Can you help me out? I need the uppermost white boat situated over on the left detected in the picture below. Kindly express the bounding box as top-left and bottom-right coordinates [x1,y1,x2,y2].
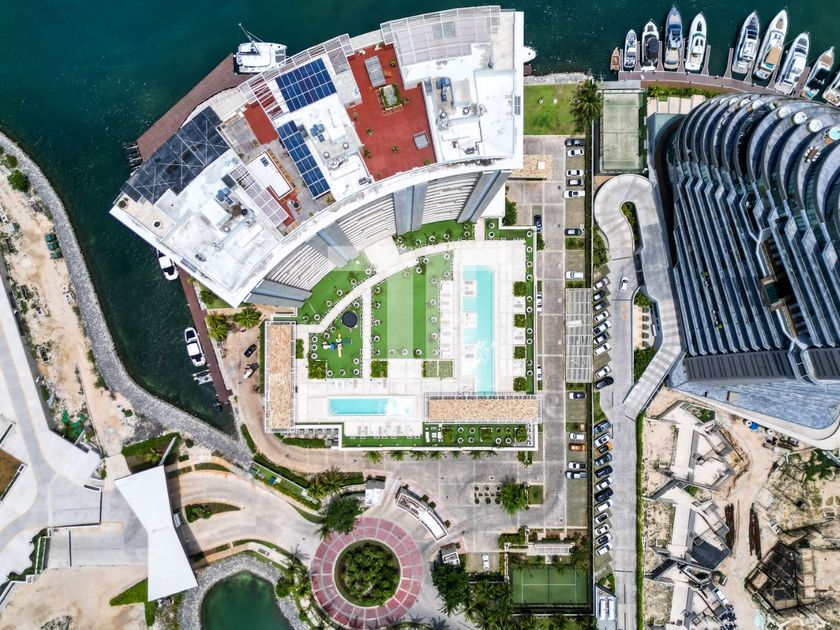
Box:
[238,23,287,73]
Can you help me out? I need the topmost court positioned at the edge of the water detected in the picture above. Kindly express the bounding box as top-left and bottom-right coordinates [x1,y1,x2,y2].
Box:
[604,87,646,171]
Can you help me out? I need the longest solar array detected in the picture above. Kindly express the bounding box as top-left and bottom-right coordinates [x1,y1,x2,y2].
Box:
[276,121,332,202]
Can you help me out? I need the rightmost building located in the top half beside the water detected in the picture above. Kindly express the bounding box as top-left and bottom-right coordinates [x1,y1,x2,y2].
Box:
[656,91,840,357]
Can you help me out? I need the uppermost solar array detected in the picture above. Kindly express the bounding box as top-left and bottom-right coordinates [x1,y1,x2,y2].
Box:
[276,58,339,114]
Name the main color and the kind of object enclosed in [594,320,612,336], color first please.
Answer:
white vehicle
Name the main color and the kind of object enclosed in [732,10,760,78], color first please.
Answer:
white boat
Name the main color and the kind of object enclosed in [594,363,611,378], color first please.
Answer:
white car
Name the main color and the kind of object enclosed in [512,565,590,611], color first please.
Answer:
green sports court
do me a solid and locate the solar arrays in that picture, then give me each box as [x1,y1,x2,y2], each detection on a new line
[276,121,332,202]
[276,58,339,114]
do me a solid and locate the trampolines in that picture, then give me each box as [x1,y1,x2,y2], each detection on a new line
[340,311,357,327]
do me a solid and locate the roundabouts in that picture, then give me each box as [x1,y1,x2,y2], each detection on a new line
[310,516,424,630]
